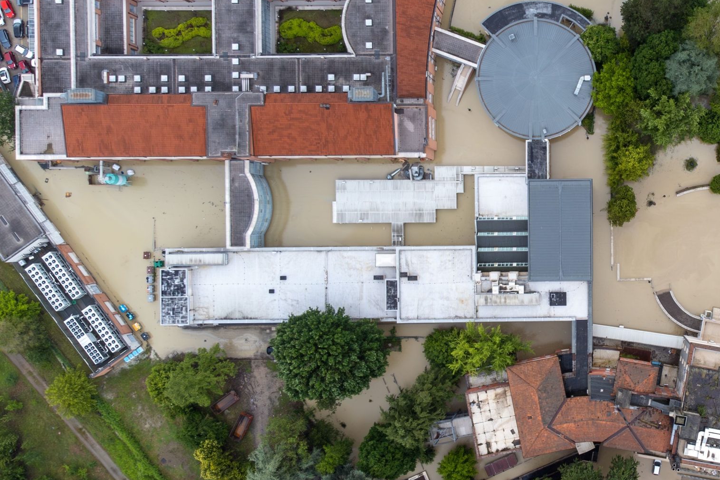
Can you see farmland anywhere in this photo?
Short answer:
No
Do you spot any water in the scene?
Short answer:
Yes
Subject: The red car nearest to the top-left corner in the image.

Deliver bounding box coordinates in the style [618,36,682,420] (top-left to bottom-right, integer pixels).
[1,0,18,19]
